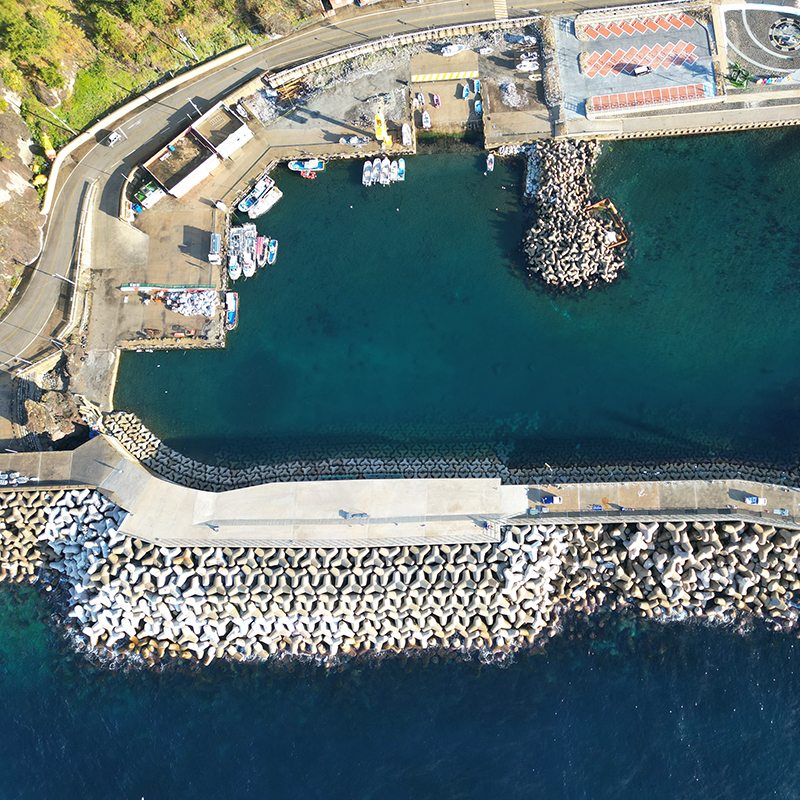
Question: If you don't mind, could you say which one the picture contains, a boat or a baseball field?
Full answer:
I can see a boat in this picture.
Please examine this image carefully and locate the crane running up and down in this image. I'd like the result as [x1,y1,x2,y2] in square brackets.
[373,97,392,148]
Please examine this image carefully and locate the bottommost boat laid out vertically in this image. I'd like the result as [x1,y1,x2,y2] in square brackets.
[227,293,241,330]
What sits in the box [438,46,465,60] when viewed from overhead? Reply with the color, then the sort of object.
white boat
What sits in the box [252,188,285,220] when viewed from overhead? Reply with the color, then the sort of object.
white boat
